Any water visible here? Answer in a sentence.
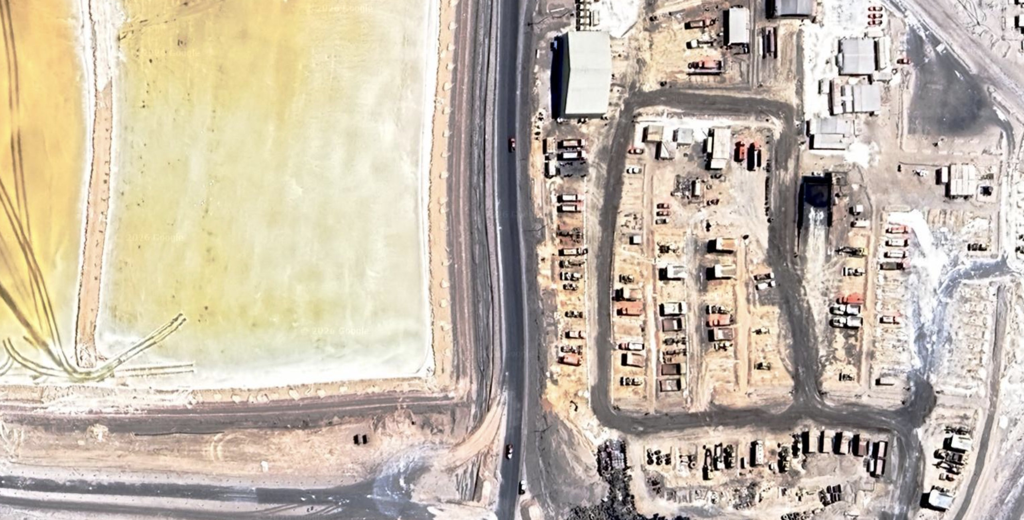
Yes, there's water in this view.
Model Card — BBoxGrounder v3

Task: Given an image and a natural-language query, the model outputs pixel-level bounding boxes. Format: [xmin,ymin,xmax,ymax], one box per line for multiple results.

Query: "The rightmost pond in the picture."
[104,0,426,368]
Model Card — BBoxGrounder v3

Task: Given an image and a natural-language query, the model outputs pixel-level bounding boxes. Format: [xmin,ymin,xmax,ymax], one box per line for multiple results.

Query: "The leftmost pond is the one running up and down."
[0,0,91,375]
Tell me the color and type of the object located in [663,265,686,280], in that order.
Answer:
white vehicle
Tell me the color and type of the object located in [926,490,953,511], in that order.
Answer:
white truck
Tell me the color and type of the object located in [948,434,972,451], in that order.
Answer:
white vehicle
